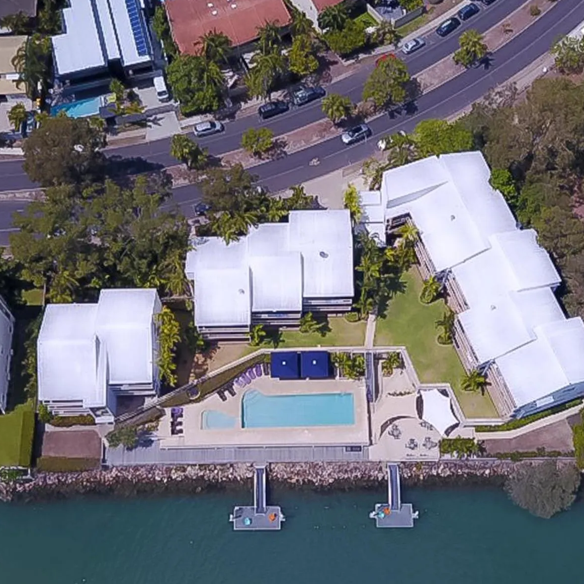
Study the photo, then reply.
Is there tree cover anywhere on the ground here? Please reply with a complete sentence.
Yes, there's tree cover in this view.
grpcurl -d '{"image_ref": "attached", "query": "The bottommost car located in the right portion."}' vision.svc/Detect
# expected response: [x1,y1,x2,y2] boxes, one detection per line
[343,127,371,145]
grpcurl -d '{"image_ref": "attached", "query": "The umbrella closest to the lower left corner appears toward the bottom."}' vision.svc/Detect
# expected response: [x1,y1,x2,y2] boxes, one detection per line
[269,352,299,380]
